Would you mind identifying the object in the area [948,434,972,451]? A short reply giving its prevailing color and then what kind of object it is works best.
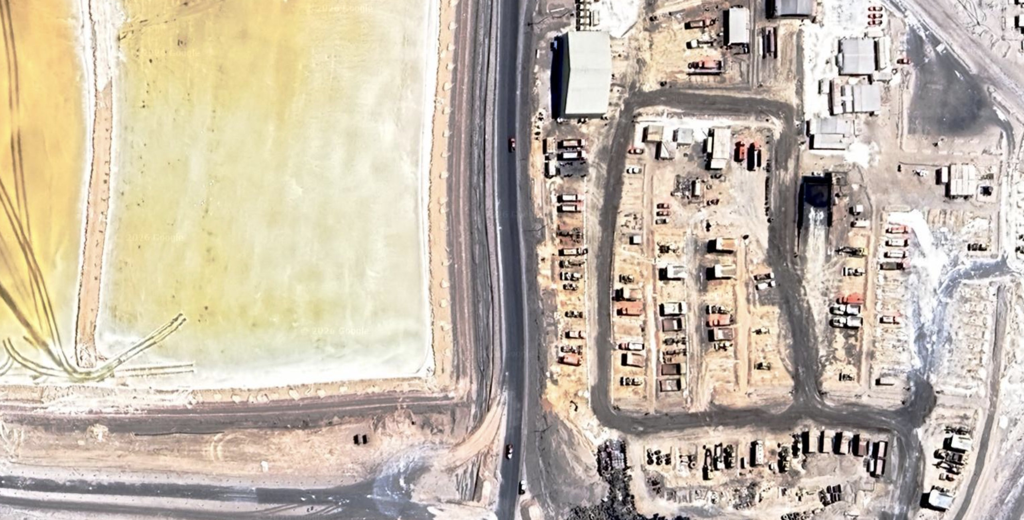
white vehicle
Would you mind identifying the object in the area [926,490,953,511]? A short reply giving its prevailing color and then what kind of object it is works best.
white truck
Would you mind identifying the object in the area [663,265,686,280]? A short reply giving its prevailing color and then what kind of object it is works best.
white vehicle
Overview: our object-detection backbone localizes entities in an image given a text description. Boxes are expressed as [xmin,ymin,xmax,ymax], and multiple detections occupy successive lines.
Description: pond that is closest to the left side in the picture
[0,0,91,375]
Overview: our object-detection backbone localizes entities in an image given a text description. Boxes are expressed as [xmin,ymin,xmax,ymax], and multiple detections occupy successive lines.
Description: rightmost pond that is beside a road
[104,0,426,368]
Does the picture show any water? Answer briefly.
Yes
